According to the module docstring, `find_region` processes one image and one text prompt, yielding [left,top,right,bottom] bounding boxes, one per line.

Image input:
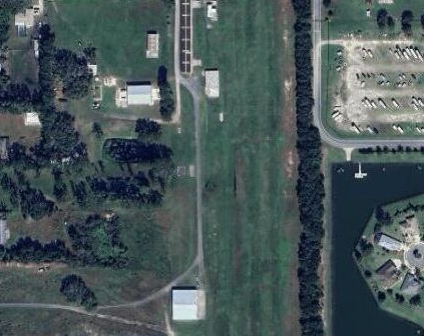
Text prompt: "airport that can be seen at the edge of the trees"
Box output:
[205,0,295,336]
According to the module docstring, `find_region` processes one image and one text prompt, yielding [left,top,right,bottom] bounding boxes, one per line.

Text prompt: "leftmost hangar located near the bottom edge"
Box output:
[172,290,197,320]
